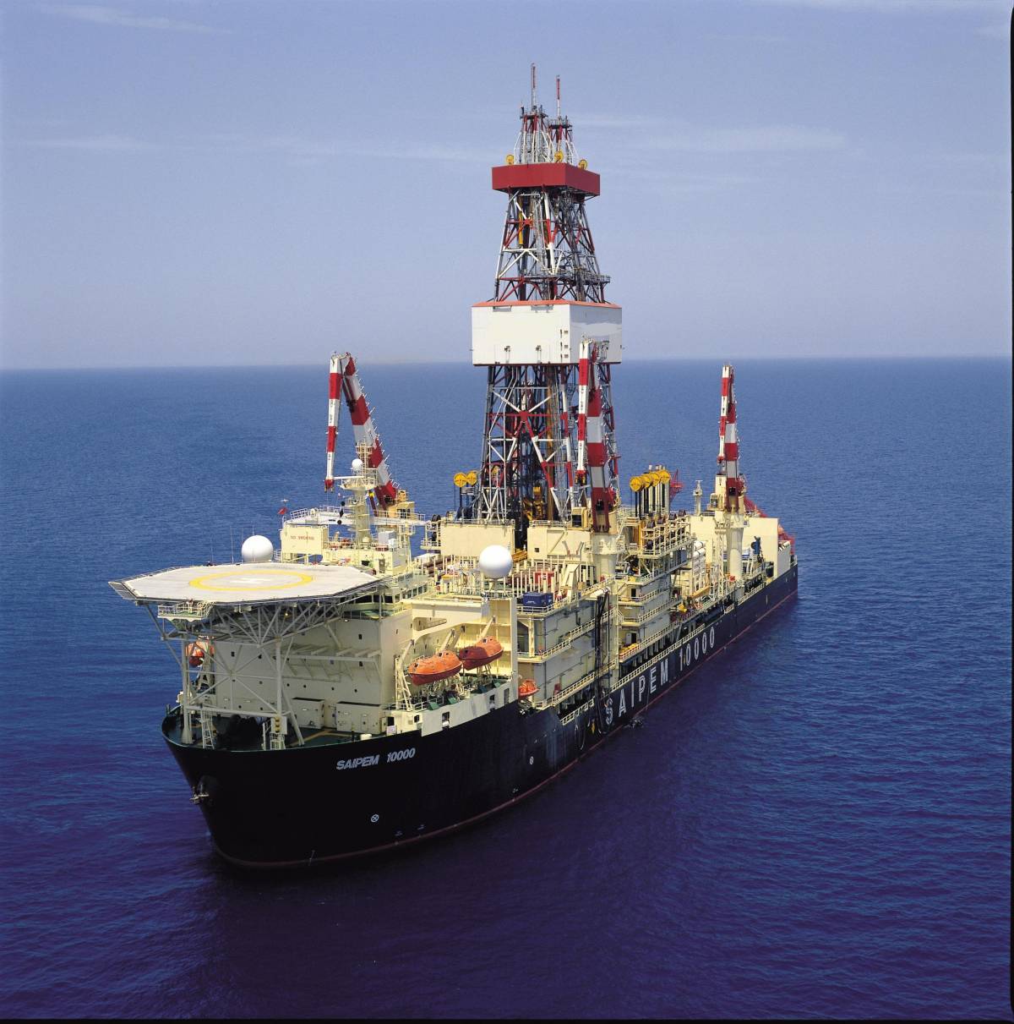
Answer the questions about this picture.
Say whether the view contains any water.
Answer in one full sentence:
Yes, water can be seen from above here.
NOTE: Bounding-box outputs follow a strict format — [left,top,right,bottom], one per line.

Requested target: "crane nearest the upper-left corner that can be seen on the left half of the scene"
[324,344,431,549]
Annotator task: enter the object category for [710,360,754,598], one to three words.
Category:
crane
